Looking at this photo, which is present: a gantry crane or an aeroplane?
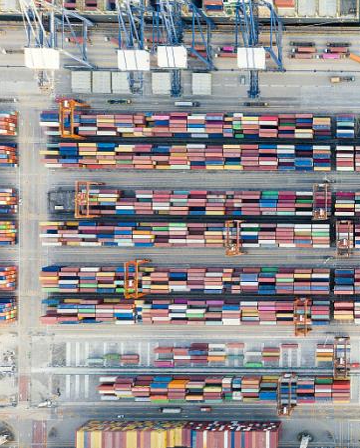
gantry crane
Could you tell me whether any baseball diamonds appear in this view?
No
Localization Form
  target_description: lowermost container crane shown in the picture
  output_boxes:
[278,368,301,417]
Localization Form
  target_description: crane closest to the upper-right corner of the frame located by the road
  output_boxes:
[236,0,287,96]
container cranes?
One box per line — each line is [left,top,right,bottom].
[115,0,169,96]
[335,222,356,258]
[333,332,353,381]
[224,221,249,256]
[236,0,287,96]
[18,0,100,95]
[154,0,217,96]
[57,100,90,141]
[124,258,153,299]
[73,182,105,218]
[294,295,316,336]
[311,184,333,220]
[278,368,301,417]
